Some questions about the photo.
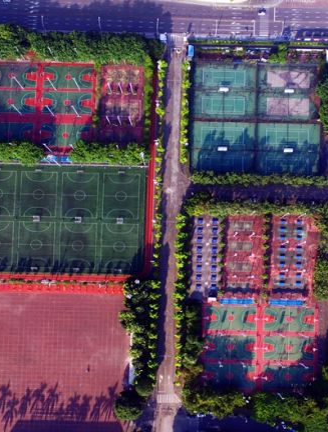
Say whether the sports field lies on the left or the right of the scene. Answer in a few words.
left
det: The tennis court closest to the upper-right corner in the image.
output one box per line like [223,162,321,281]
[267,71,309,87]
